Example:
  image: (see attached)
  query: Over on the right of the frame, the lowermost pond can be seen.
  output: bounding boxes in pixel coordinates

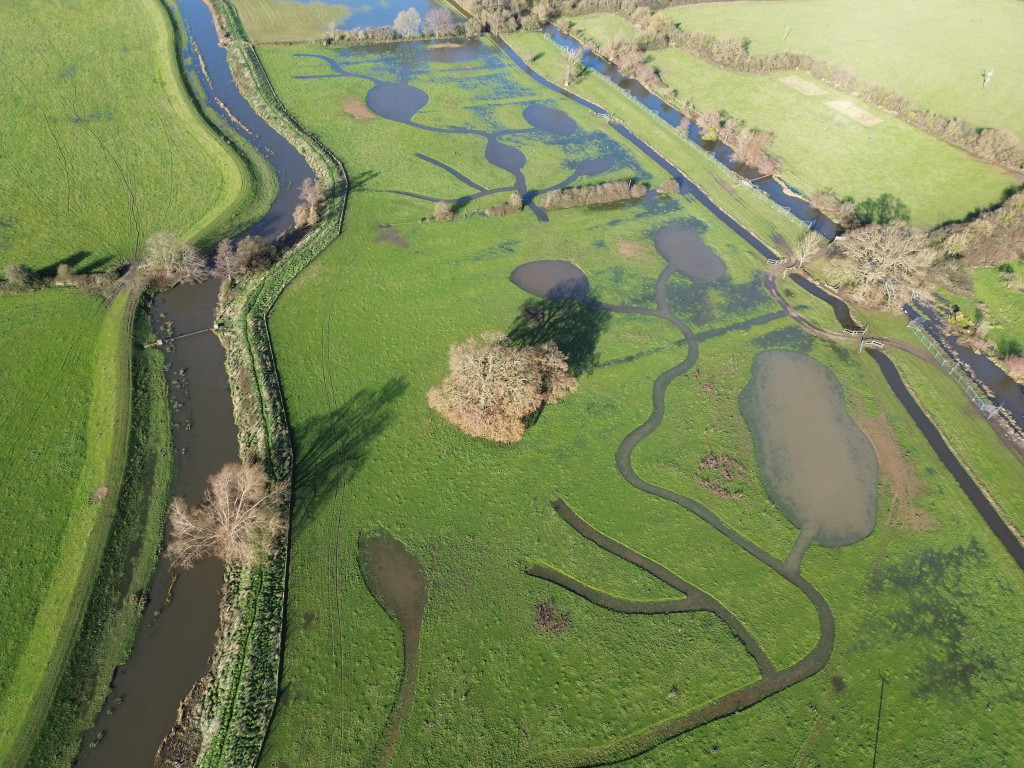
[739,351,879,546]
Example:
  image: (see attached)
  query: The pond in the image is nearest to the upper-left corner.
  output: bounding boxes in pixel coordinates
[365,82,429,122]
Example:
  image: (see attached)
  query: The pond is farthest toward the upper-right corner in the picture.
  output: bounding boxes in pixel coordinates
[656,230,726,283]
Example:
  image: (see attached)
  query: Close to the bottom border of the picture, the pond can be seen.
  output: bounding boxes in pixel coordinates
[357,526,430,768]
